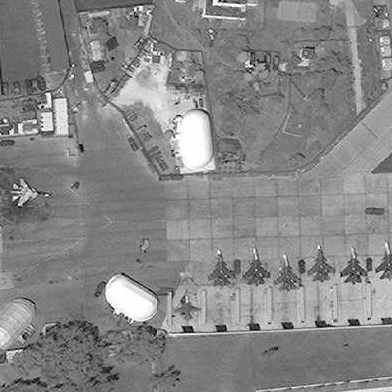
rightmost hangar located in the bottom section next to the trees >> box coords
[102,273,159,324]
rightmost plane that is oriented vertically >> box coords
[376,243,392,278]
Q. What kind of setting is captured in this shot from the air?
airport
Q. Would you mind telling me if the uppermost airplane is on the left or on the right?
left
